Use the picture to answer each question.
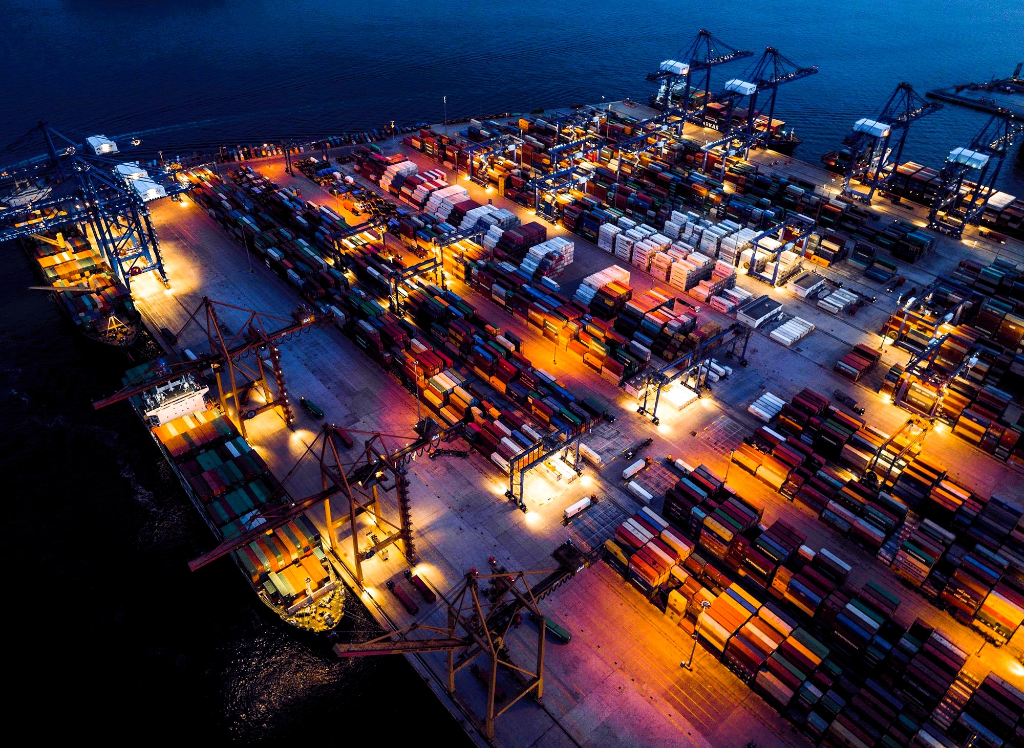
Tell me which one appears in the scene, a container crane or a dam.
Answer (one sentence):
The one in the frame is a container crane.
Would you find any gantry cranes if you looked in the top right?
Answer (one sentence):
Yes, a gantry crane shows up in the top right.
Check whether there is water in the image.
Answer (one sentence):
Yes, some water is visible.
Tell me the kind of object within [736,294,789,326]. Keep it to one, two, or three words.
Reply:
building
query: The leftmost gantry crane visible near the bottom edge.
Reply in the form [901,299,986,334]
[326,525,624,748]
